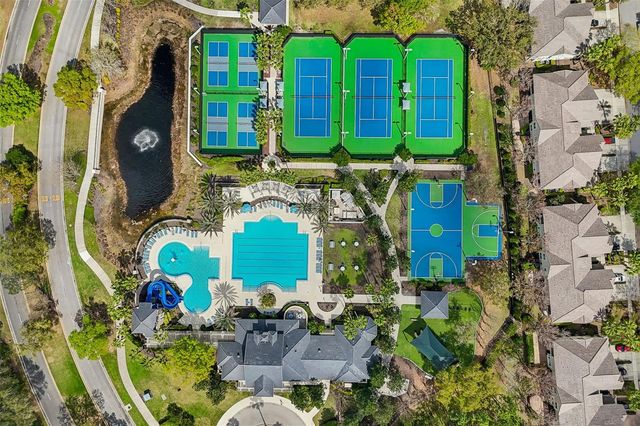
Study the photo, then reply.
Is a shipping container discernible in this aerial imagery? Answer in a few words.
No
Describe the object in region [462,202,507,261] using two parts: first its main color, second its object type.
green basketball court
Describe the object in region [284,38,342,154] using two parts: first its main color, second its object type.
green tennis court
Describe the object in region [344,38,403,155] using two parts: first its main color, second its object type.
green tennis court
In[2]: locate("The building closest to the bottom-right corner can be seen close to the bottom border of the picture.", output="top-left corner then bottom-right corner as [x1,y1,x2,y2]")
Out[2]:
[547,334,629,426]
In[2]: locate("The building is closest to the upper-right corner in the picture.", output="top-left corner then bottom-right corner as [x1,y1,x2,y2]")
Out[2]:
[518,0,596,63]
